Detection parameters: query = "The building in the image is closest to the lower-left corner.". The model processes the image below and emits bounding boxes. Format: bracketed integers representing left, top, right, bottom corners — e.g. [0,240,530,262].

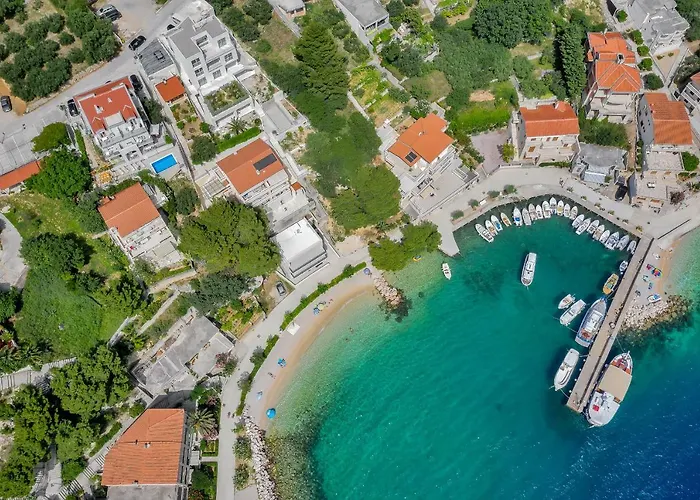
[101,408,205,500]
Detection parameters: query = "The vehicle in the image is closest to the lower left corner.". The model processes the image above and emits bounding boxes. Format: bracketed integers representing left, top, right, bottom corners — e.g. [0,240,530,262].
[275,280,288,300]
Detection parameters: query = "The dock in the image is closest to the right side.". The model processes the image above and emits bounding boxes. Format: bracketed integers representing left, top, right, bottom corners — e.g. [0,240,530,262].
[564,238,657,414]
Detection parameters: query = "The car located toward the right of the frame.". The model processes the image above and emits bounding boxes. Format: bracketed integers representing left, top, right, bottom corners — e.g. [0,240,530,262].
[612,185,630,204]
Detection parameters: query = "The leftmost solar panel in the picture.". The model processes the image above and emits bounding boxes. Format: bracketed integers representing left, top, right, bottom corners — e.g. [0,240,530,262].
[253,154,277,172]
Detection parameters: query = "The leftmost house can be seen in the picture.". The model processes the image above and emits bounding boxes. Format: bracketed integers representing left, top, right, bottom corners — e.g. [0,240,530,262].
[0,159,46,202]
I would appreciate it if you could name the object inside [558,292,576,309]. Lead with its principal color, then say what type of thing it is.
white boat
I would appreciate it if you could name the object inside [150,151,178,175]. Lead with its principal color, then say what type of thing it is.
blue swimming pool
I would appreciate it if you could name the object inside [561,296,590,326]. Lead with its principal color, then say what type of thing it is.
white boat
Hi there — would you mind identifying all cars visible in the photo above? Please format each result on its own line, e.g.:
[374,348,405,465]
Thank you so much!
[68,100,80,116]
[612,185,630,204]
[0,96,12,113]
[105,9,124,23]
[99,3,118,17]
[131,75,143,91]
[275,280,288,300]
[128,36,147,51]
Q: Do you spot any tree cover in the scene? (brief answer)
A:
Yes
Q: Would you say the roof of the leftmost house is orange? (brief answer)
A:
Yes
